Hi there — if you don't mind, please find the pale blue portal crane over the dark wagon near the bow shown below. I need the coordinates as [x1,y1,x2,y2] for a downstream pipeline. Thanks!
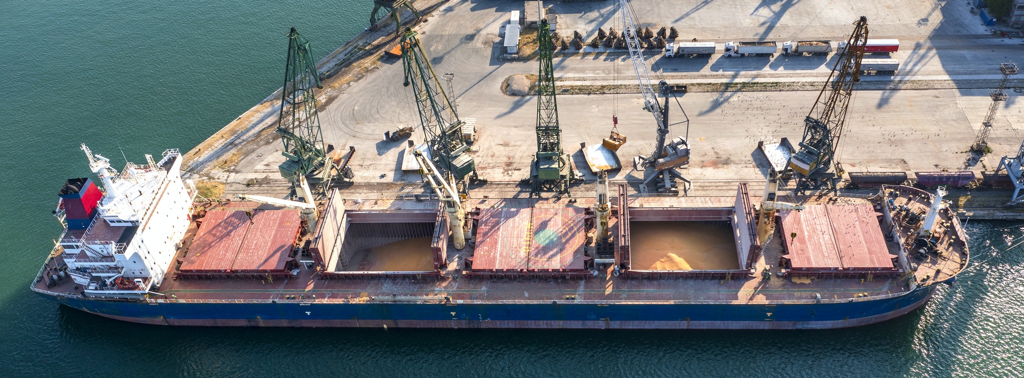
[984,145,1024,203]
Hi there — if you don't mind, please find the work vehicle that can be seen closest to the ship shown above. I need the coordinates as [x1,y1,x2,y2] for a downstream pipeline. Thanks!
[384,122,418,141]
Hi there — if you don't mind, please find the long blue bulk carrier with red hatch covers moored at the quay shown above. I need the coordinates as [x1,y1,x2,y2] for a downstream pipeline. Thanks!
[28,138,970,329]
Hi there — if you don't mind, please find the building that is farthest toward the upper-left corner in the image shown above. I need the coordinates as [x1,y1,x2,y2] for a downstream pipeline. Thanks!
[501,24,521,56]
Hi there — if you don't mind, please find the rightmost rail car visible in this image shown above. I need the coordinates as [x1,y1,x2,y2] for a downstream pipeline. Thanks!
[974,165,1024,185]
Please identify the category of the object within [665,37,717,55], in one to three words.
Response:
vehicle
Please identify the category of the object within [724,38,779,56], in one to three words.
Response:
vehicle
